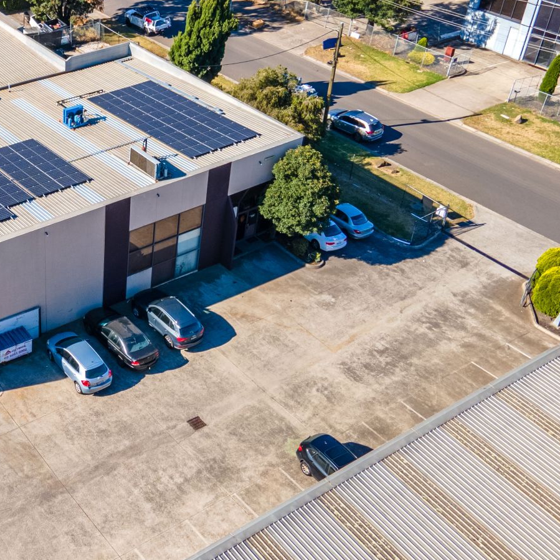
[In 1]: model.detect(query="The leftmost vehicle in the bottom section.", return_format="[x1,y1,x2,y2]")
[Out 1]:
[42,331,108,389]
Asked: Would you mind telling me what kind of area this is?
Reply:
industrial area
